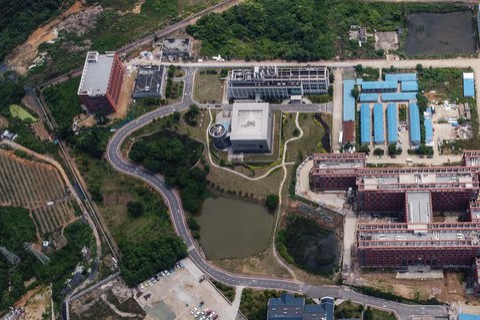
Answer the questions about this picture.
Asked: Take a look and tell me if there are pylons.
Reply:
Yes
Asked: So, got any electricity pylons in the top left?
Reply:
No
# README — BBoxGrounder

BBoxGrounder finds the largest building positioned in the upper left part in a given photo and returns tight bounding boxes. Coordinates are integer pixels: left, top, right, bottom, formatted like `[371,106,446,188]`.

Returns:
[76,50,124,113]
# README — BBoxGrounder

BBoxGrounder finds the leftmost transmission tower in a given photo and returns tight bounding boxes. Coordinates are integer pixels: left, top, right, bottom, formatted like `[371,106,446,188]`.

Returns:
[0,241,20,266]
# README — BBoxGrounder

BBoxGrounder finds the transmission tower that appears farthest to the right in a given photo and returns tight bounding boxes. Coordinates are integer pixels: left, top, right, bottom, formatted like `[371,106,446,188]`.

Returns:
[20,240,52,271]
